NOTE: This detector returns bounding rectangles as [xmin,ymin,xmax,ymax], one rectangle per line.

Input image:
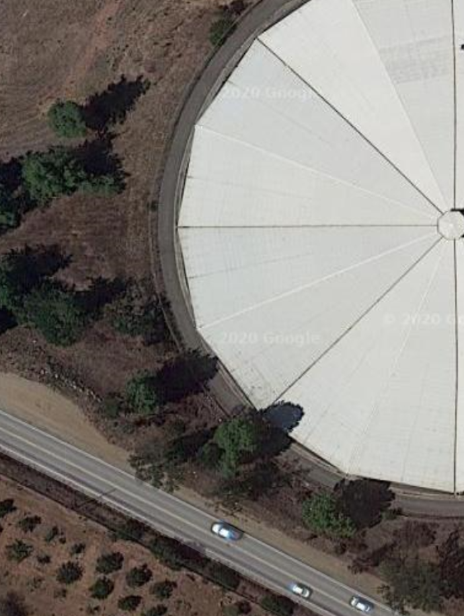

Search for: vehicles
[350,595,373,611]
[289,581,312,598]
[215,523,239,540]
